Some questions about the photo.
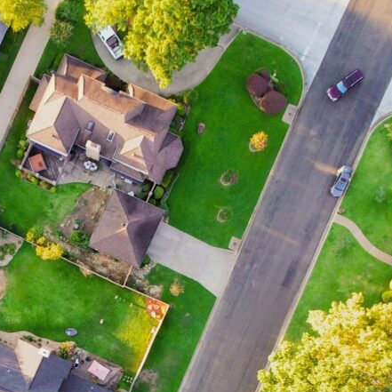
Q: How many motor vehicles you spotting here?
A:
3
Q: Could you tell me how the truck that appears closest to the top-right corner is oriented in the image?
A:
diagonally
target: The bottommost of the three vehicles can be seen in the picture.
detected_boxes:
[329,164,354,199]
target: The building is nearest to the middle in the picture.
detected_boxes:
[88,188,166,268]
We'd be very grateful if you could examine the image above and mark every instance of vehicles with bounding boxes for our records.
[326,68,365,101]
[329,164,354,199]
[96,24,125,63]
